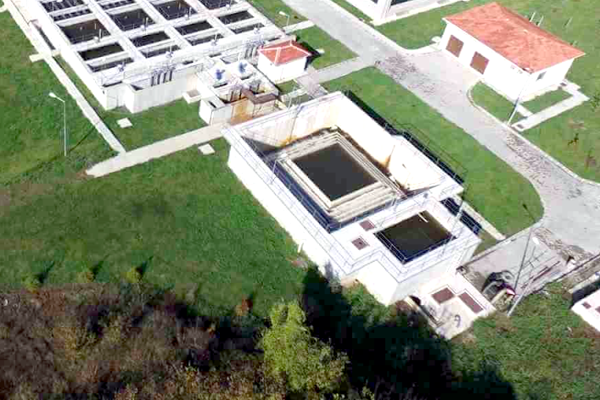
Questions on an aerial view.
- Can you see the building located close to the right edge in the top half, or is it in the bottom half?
top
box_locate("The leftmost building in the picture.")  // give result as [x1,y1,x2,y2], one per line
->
[258,37,313,79]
